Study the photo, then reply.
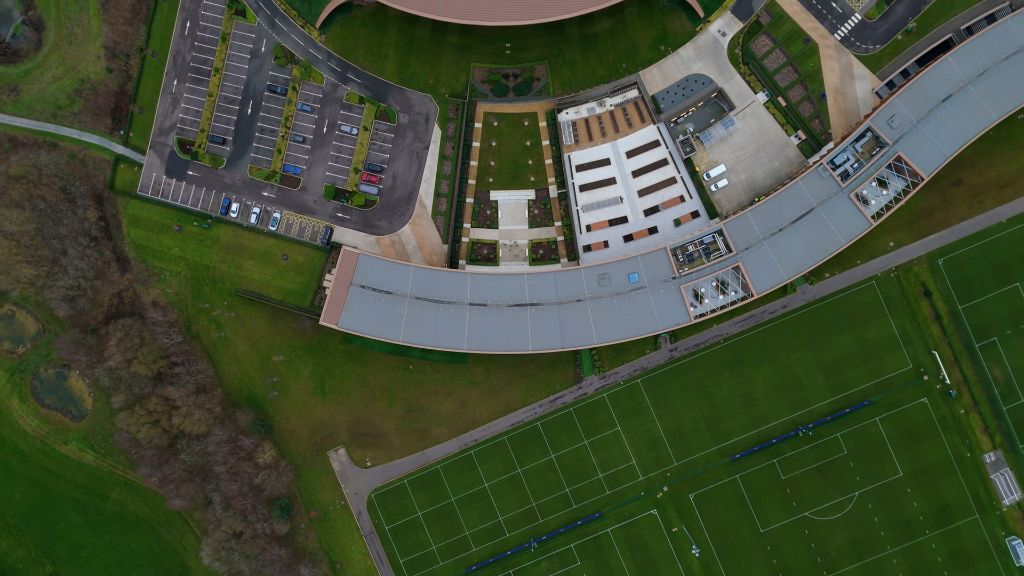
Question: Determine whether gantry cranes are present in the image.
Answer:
No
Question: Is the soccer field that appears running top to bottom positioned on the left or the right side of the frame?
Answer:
right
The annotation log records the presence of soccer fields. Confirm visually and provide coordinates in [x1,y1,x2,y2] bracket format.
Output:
[935,222,1024,454]
[687,394,1004,576]
[498,507,686,576]
[369,277,916,576]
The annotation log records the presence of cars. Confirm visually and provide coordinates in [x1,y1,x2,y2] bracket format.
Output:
[268,84,287,95]
[362,173,380,184]
[208,134,227,145]
[297,103,314,113]
[221,198,231,215]
[340,125,359,135]
[270,212,281,230]
[365,162,383,172]
[283,165,300,174]
[290,134,307,144]
[360,184,379,194]
[322,225,333,245]
[250,207,261,225]
[231,202,241,218]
